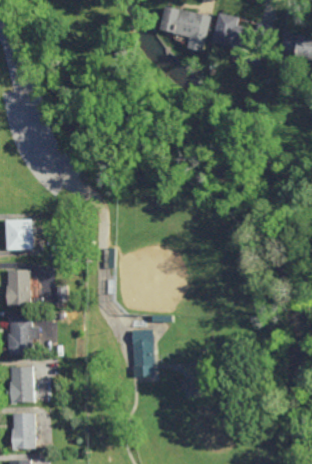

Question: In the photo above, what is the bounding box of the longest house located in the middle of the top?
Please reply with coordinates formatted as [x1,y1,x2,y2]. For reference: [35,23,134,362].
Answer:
[162,8,212,38]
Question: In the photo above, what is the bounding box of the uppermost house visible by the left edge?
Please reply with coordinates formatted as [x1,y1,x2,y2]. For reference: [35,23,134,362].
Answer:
[6,218,34,254]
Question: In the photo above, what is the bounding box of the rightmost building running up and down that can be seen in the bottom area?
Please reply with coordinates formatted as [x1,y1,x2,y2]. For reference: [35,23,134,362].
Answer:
[133,330,156,378]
